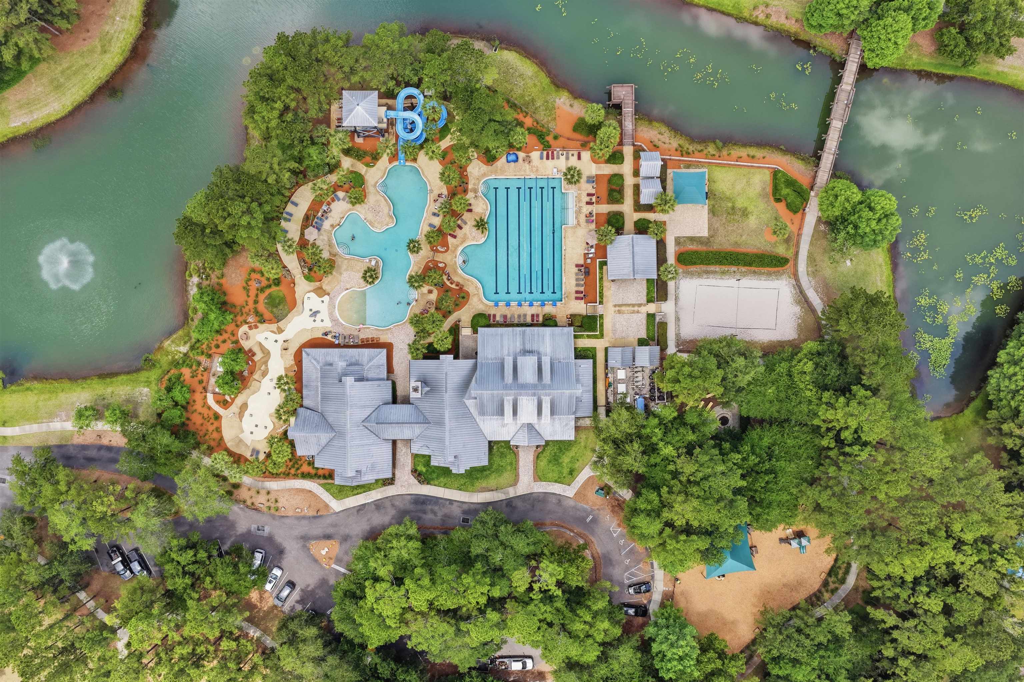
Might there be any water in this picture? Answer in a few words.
Yes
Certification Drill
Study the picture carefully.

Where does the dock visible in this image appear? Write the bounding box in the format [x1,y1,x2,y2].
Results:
[608,82,638,146]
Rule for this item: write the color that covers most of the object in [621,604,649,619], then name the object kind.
black car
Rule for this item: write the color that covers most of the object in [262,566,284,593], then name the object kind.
white car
